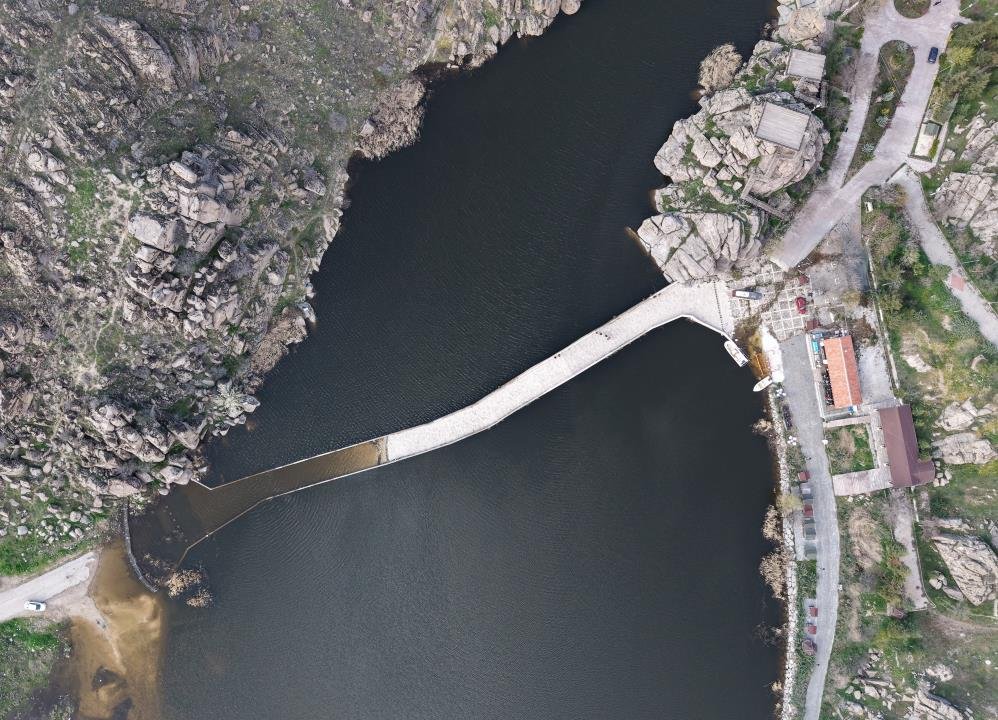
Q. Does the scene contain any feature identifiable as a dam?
Yes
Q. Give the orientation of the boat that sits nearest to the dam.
on a diagonal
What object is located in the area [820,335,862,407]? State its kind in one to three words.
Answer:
house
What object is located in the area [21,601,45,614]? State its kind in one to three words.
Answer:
vehicle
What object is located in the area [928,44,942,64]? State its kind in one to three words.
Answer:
car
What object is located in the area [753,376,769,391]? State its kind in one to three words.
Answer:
boat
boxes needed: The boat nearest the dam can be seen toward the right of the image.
[726,343,748,366]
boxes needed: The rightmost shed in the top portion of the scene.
[917,122,940,139]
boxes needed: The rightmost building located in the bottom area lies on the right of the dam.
[868,405,939,486]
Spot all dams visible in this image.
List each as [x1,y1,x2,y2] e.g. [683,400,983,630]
[146,277,733,569]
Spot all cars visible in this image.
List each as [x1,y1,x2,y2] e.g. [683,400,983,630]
[21,601,45,614]
[796,295,809,315]
[928,44,942,64]
[950,17,971,32]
